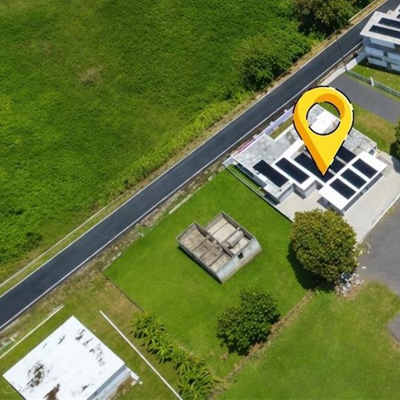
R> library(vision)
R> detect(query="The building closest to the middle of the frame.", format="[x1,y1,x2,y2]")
[231,103,388,219]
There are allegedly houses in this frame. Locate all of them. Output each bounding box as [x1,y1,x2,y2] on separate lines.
[2,316,140,400]
[359,5,400,76]
[231,103,388,219]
